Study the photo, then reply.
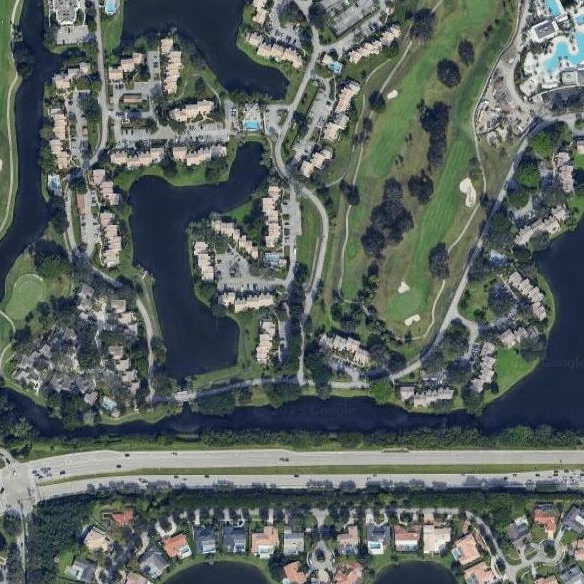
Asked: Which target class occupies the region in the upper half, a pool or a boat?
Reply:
pool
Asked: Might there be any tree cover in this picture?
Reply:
Yes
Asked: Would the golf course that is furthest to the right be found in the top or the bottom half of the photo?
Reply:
top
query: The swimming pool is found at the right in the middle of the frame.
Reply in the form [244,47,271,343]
[489,250,509,264]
